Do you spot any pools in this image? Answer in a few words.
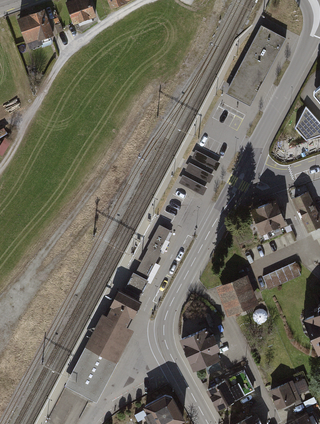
No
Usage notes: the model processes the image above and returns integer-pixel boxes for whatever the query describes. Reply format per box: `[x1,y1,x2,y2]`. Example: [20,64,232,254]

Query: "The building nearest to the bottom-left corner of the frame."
[66,348,117,402]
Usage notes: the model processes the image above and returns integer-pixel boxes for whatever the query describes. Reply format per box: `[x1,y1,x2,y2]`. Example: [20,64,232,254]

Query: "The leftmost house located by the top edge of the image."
[19,10,54,50]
